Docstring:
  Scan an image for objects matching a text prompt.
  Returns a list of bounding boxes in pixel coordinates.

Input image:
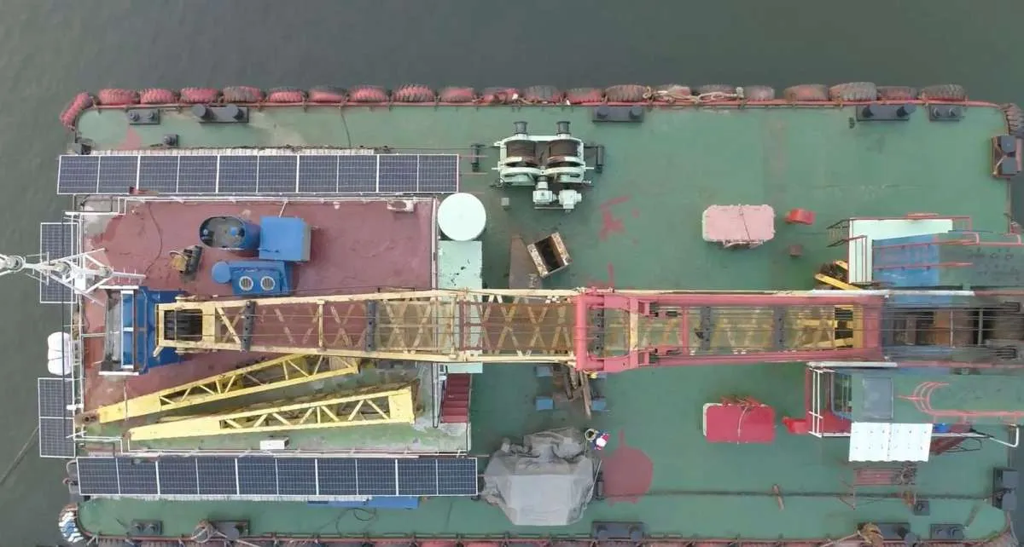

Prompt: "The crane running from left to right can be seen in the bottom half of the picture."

[151,213,1024,463]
